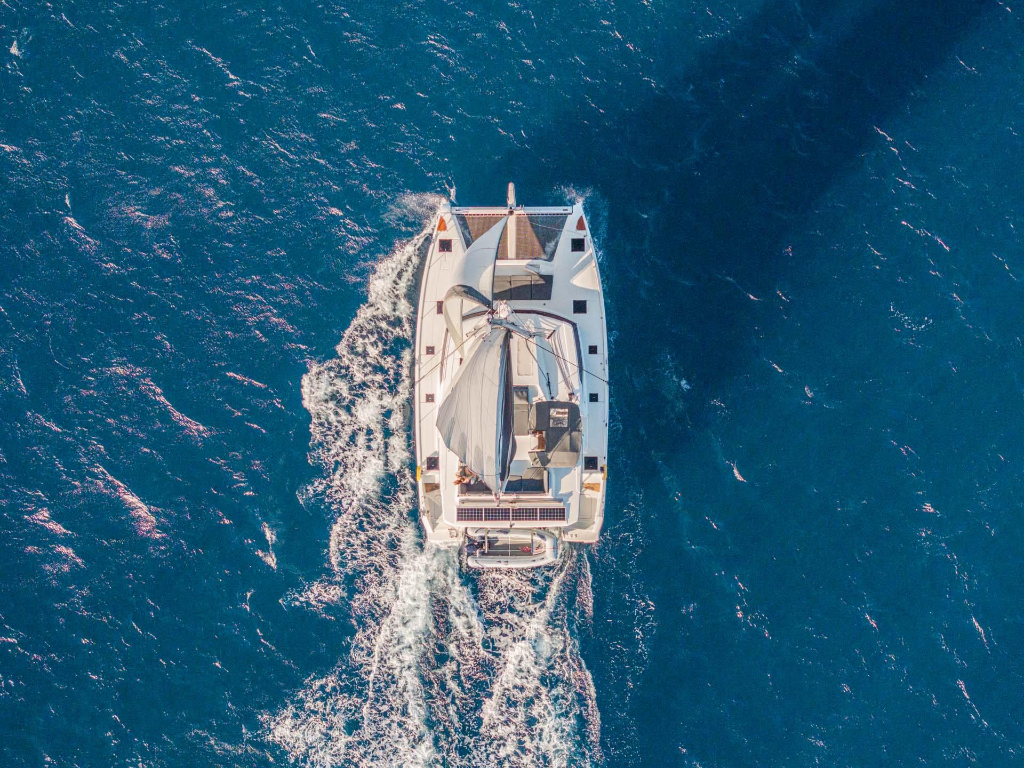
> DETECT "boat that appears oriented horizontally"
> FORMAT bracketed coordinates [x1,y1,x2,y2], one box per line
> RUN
[465,526,557,568]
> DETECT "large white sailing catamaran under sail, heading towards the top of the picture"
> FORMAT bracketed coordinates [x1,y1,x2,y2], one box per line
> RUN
[415,183,609,542]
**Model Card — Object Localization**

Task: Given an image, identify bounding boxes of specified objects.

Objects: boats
[415,183,609,542]
[465,526,557,568]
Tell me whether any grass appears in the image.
No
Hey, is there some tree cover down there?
No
